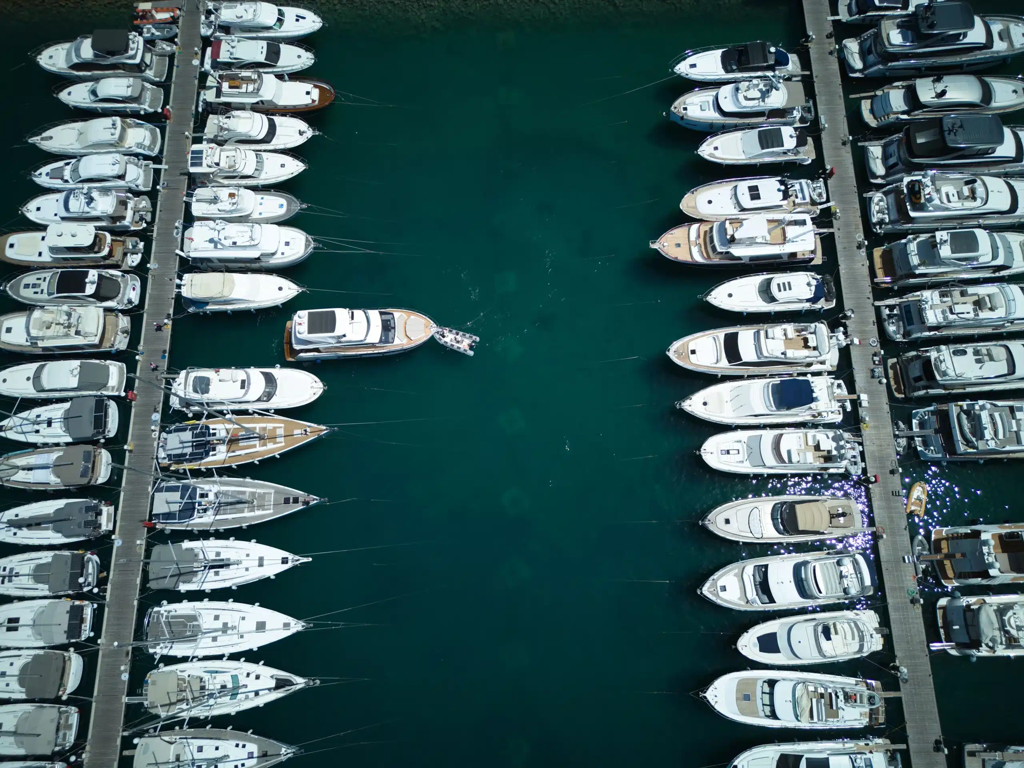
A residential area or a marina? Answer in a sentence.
It's a marina.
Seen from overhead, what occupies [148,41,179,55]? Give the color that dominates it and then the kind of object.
gray boat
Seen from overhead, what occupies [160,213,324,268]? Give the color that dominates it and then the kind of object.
white boat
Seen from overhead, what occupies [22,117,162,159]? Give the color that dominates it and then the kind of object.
white boat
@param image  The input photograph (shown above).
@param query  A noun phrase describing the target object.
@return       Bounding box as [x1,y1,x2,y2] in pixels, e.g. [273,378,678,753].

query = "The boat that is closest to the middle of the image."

[434,326,476,356]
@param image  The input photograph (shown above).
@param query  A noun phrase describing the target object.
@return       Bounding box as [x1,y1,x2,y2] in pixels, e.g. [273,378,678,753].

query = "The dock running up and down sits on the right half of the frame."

[801,0,947,768]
